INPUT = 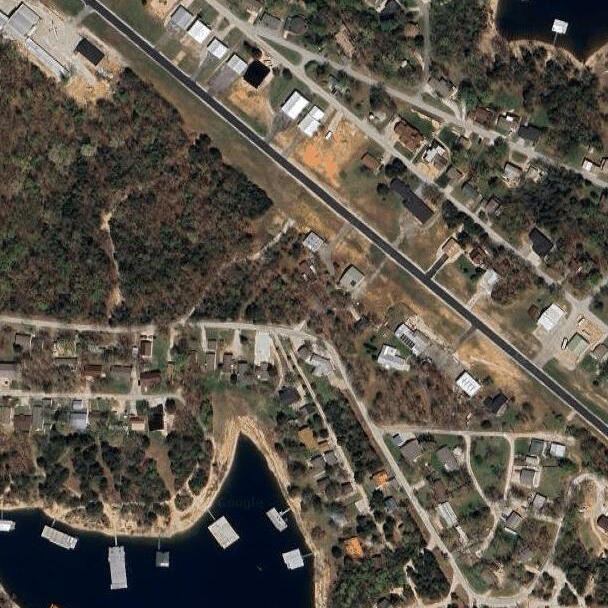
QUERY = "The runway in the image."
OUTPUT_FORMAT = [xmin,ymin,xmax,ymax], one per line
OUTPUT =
[83,0,608,436]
